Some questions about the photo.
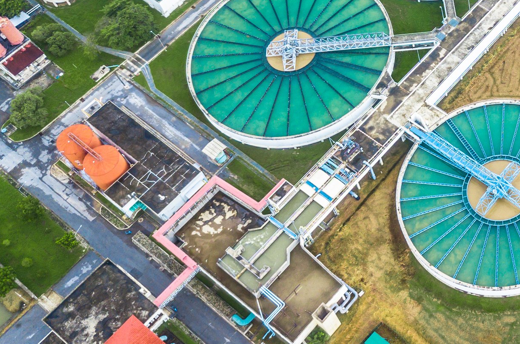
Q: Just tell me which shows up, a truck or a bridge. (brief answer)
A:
bridge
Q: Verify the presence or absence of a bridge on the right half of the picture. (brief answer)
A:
Yes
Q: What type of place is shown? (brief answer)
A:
industrial area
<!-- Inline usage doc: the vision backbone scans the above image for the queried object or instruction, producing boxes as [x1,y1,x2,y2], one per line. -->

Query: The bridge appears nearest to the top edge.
[264,24,394,68]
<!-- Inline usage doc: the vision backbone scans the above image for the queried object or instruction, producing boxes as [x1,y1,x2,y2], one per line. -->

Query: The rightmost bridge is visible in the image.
[412,126,520,214]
